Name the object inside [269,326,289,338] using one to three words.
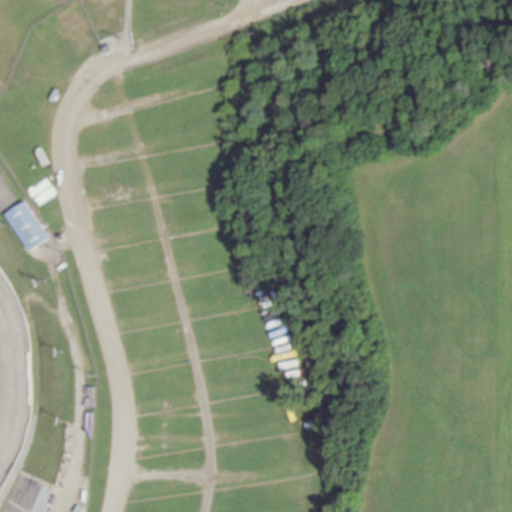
vehicle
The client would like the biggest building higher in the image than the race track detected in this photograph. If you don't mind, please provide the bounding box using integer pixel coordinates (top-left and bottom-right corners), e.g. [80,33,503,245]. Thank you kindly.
[4,200,49,251]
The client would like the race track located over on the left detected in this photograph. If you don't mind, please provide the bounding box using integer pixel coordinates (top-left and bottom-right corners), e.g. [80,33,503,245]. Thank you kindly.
[0,263,32,492]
